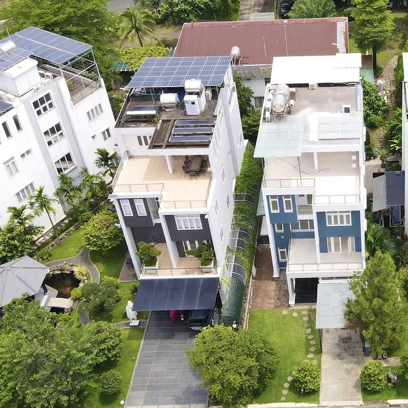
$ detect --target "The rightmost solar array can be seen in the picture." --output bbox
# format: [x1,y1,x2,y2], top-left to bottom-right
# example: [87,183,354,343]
[124,54,228,105]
